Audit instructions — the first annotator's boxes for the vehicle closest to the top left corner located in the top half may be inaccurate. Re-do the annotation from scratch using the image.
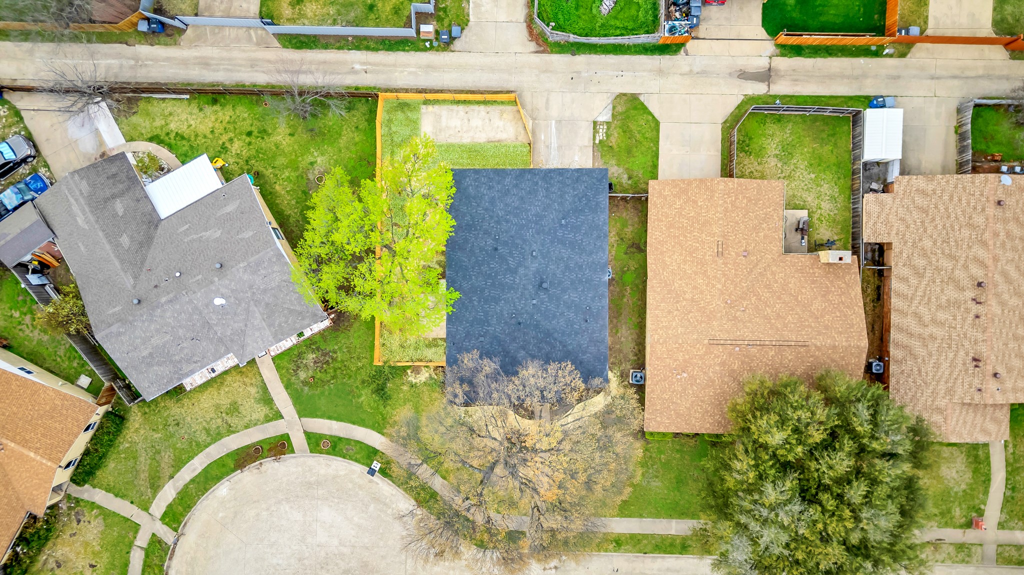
[0,134,41,181]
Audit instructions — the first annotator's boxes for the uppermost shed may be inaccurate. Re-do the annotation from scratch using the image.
[851,108,904,164]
